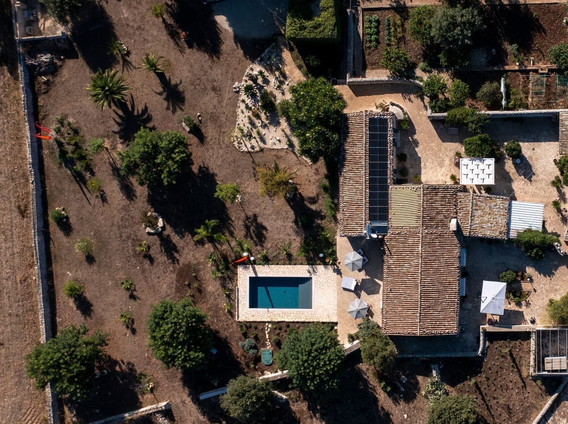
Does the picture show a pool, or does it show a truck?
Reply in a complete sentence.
The image shows a pool.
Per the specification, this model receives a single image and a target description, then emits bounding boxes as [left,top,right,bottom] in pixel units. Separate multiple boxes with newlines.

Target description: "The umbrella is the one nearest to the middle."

[343,250,364,271]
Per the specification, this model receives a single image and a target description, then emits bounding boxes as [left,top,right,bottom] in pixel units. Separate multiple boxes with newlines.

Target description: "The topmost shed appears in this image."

[286,0,345,47]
